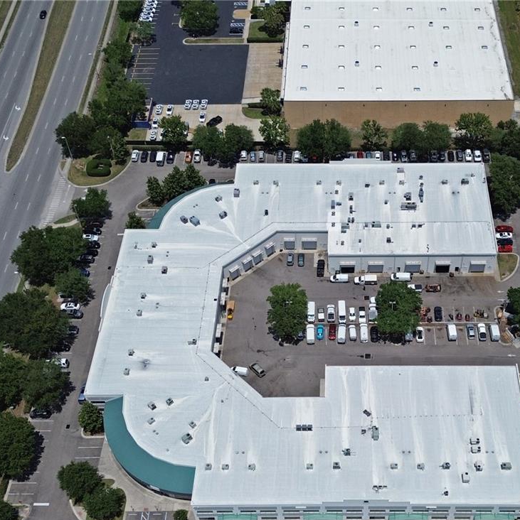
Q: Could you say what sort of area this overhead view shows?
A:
industrial area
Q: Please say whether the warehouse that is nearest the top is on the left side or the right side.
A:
right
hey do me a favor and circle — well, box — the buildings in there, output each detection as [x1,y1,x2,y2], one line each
[282,0,513,129]
[84,160,520,520]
